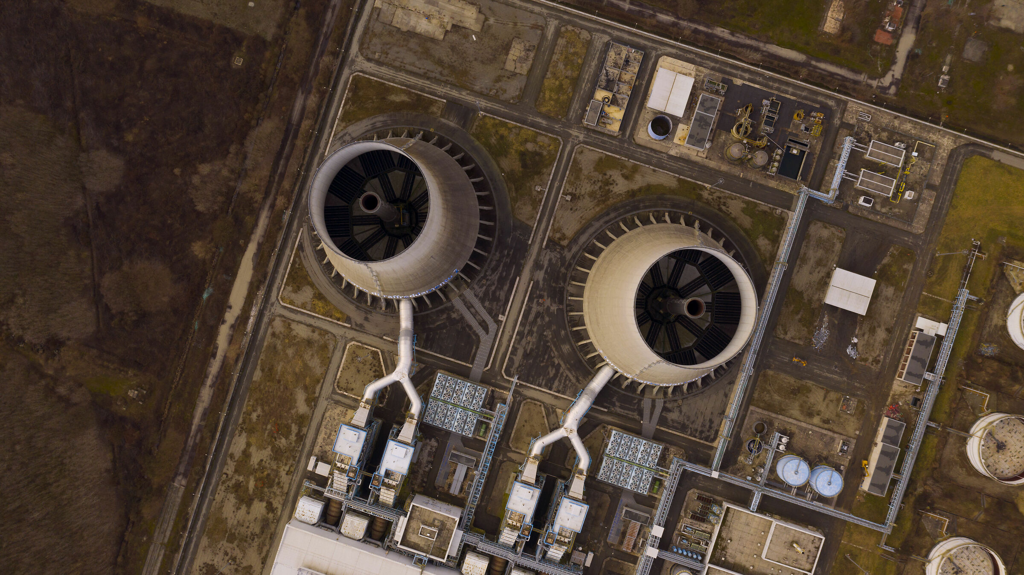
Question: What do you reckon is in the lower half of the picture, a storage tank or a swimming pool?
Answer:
storage tank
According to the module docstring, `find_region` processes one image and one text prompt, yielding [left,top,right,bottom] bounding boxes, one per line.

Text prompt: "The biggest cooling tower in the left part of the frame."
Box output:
[306,125,497,315]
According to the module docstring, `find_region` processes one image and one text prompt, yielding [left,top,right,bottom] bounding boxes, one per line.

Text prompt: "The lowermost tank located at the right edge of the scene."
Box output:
[920,532,1006,575]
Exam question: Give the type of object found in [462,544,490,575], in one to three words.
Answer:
house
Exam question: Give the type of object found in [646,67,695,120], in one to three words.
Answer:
shed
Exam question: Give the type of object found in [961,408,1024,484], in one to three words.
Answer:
storage tank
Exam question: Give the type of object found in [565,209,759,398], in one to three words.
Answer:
cooling tower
